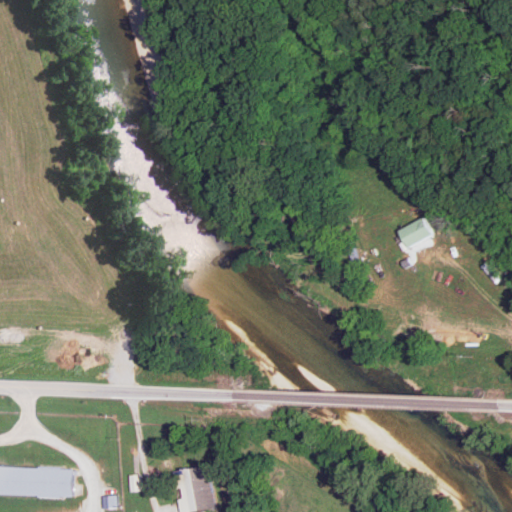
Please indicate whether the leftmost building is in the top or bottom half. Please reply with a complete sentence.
It is in the bottom half that the leftmost building appears.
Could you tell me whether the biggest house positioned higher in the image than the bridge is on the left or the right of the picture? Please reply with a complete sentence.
You can find the biggest house positioned higher in the image than the bridge on the right side of the picture.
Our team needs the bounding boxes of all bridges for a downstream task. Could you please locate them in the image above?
[232,388,498,413]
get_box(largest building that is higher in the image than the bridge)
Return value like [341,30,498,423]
[396,218,435,256]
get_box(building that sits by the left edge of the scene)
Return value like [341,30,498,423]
[0,464,75,498]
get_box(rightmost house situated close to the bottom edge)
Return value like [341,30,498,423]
[180,472,215,512]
